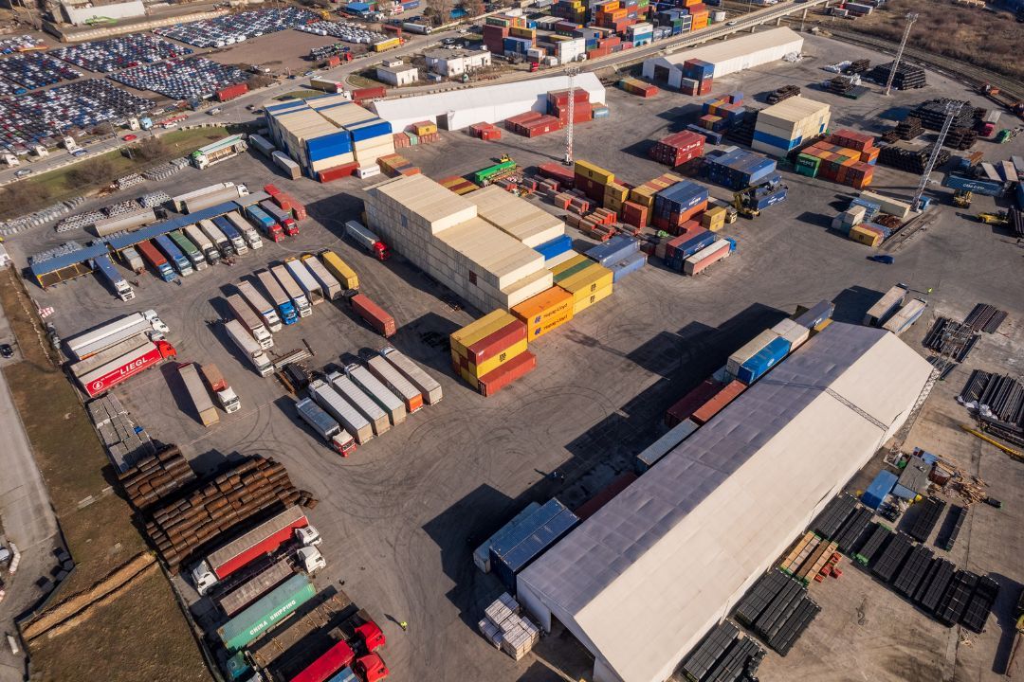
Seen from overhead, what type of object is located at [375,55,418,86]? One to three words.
building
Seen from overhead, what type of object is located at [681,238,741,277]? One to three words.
truck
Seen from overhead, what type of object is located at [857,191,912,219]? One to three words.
shipping container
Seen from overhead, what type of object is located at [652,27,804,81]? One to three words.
building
